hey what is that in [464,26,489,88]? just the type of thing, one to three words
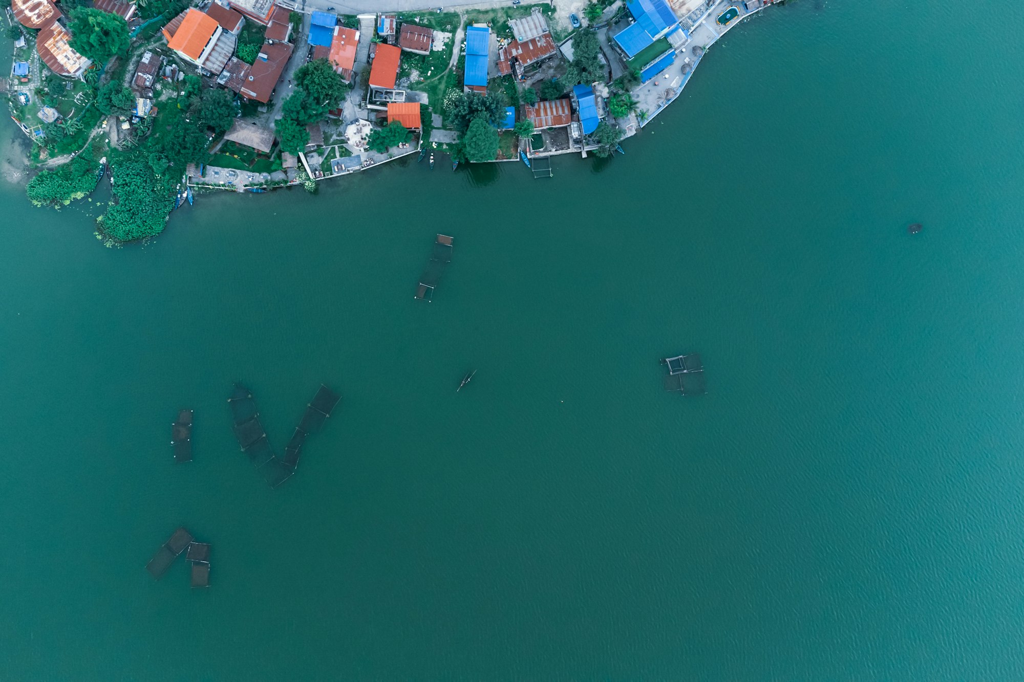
house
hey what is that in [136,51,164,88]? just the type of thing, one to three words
shed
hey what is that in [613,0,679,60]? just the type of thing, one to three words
building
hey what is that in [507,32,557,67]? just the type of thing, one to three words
house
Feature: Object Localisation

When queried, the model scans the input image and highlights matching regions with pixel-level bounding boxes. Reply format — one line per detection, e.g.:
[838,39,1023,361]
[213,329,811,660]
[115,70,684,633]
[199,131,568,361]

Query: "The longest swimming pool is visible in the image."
[715,3,741,27]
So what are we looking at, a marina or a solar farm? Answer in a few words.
marina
